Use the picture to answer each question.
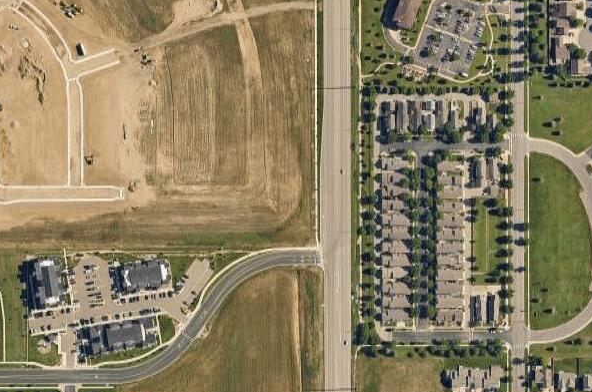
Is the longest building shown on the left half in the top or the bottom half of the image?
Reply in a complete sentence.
The longest building shown on the left half is in the bottom half of the image.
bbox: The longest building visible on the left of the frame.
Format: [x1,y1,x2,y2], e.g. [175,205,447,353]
[77,319,150,356]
